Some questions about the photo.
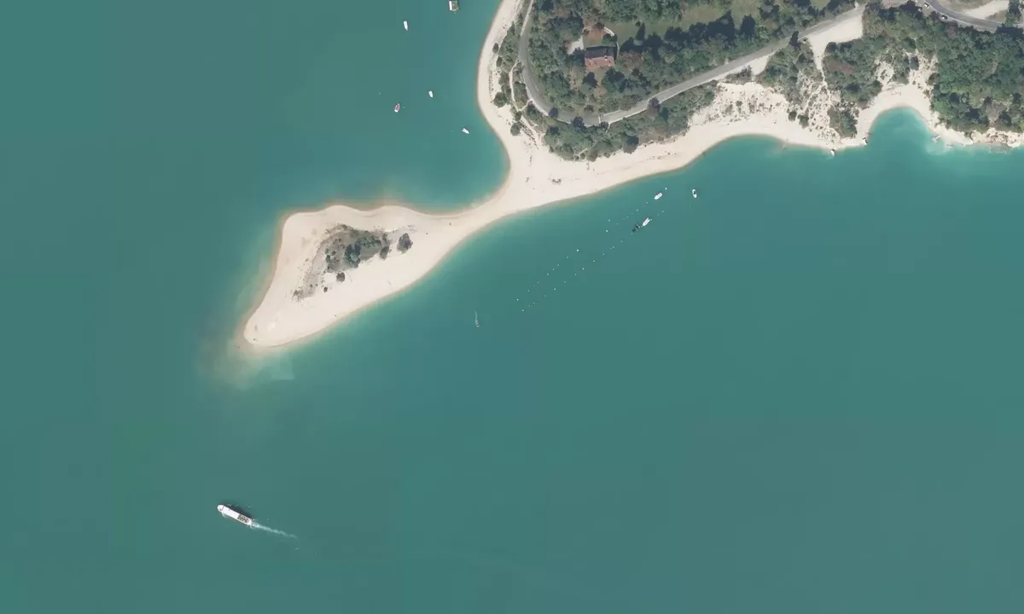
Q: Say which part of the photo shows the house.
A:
top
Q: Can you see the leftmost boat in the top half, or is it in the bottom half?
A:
bottom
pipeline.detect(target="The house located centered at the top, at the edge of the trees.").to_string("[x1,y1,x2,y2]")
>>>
[586,45,616,66]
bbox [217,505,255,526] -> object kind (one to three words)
boat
